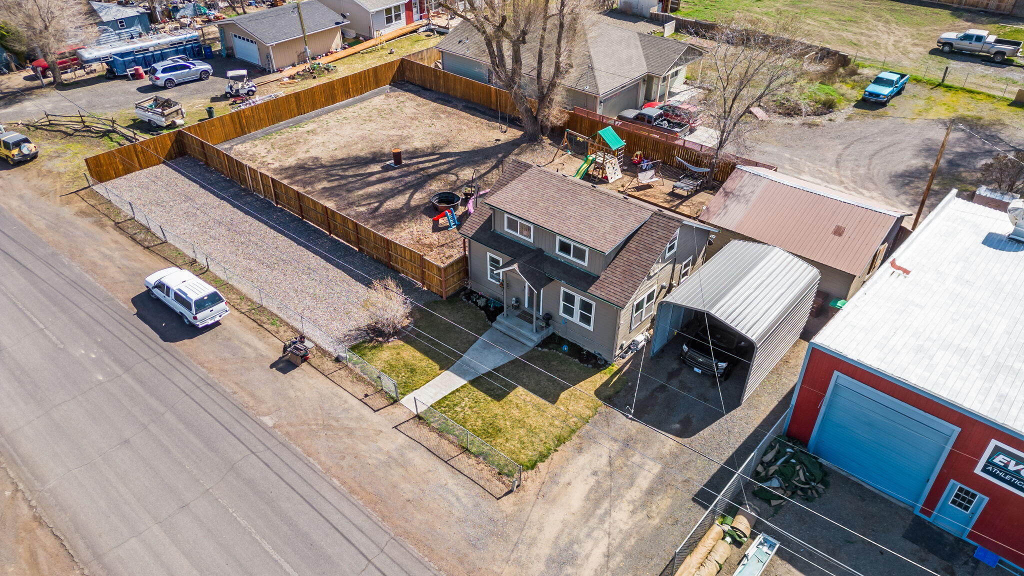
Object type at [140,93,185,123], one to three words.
trailer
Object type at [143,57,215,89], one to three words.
car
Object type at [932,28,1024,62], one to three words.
truck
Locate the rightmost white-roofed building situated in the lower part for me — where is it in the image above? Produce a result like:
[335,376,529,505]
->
[780,189,1024,568]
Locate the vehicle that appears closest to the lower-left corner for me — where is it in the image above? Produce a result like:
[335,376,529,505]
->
[139,261,233,326]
